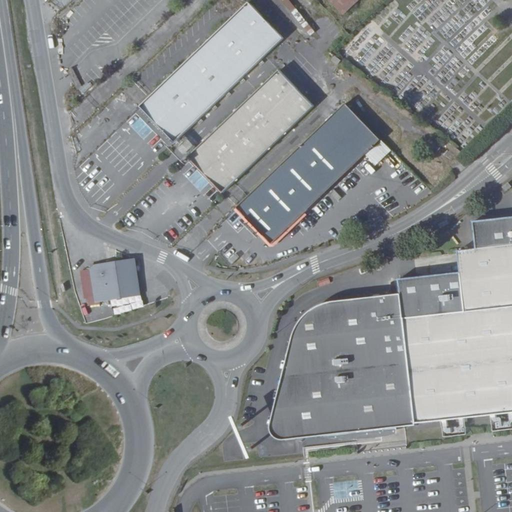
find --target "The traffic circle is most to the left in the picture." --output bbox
[0,333,154,512]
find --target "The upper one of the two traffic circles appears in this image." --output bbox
[178,281,266,369]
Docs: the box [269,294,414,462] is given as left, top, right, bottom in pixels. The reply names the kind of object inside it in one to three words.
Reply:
building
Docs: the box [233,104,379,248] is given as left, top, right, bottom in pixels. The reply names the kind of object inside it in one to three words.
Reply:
building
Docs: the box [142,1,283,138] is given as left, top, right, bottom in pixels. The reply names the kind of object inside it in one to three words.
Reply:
warehouse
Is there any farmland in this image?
No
